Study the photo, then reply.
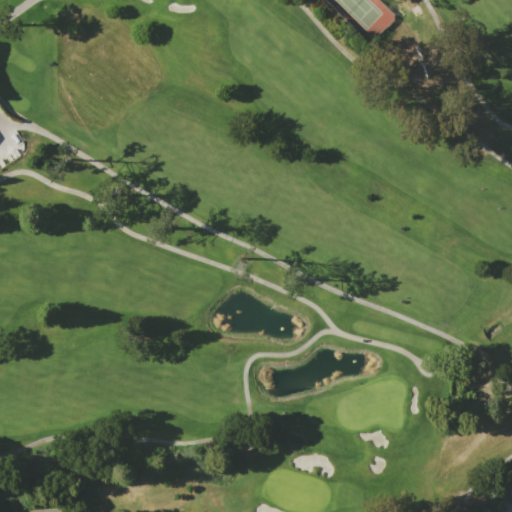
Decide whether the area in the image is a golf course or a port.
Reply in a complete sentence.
It's a golf course.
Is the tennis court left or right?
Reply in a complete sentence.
The tennis court is on the right side of the image.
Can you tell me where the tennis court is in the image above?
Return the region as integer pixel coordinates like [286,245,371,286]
[331,0,393,40]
